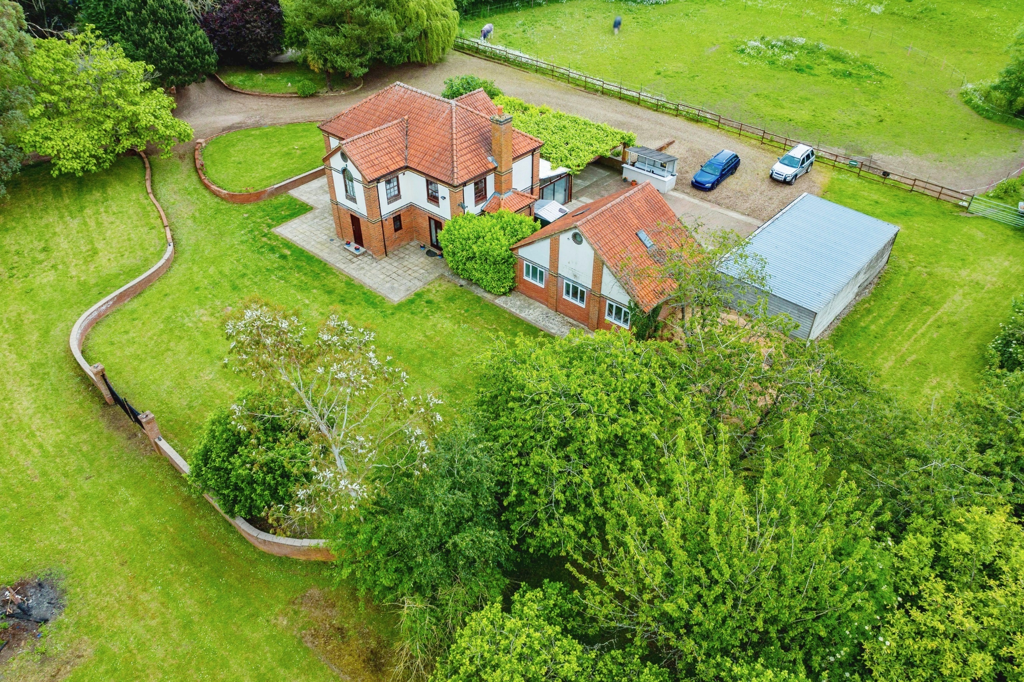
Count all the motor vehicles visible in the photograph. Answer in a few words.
two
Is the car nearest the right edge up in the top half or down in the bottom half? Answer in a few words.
top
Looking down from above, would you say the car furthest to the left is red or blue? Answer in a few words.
blue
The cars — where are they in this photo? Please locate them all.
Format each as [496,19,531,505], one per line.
[764,140,818,186]
[689,149,744,189]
